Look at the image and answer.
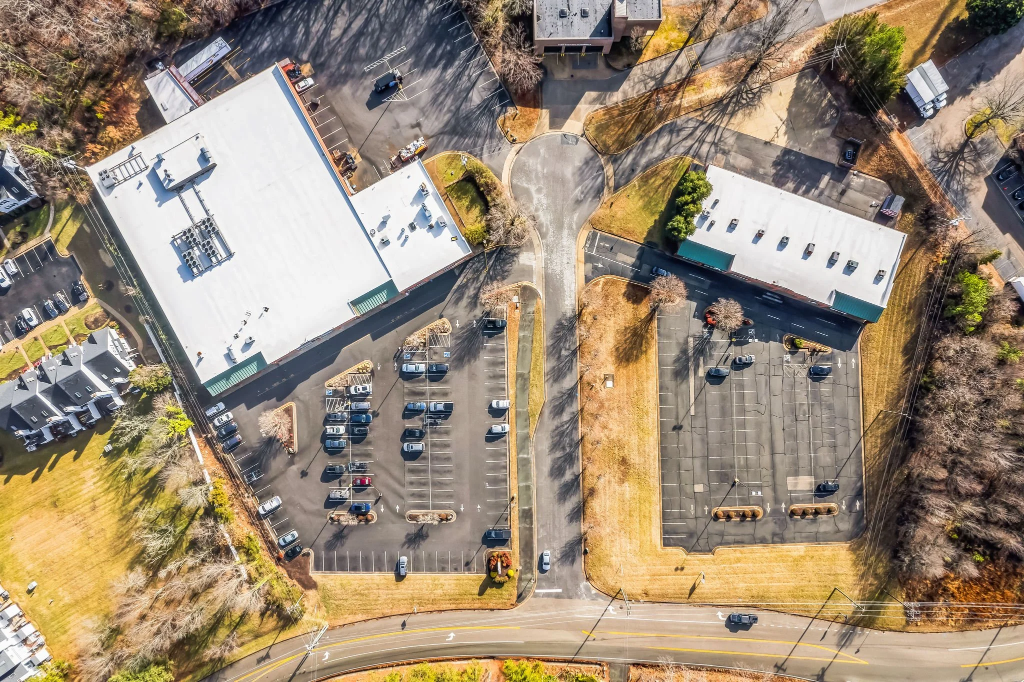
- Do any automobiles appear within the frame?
Yes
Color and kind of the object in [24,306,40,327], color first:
white car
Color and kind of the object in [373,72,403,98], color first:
black truck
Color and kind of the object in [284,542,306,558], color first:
black car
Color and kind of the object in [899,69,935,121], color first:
white truck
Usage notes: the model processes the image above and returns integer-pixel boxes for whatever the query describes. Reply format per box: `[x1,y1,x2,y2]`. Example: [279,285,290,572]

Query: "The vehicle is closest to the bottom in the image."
[728,612,756,625]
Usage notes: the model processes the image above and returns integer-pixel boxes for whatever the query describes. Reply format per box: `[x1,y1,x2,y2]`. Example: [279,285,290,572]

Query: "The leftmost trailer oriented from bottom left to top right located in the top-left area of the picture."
[177,38,233,84]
